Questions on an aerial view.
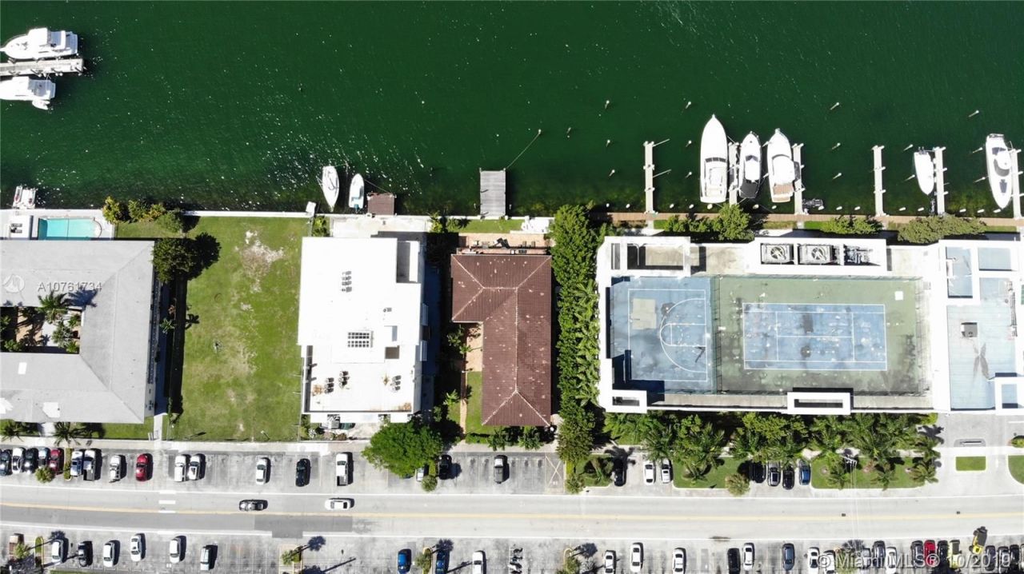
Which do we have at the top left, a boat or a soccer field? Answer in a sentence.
Looking at the top left, you will find a boat.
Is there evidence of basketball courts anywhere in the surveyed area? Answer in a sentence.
Yes, you can see a basketball court in this photo.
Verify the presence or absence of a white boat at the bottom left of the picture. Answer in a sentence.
No, no white boat can be made out at the bottom left of the picture.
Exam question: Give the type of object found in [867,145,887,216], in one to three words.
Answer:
pier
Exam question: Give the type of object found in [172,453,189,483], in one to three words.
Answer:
car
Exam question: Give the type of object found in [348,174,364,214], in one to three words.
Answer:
boat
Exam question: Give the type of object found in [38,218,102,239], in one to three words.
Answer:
swimming pool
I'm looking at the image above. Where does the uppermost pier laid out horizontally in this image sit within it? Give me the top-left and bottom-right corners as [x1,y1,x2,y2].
[0,52,85,79]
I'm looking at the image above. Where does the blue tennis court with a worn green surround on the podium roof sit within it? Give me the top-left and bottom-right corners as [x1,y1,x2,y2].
[718,277,926,393]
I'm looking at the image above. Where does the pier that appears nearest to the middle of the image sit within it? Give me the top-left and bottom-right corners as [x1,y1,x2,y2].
[478,166,509,218]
